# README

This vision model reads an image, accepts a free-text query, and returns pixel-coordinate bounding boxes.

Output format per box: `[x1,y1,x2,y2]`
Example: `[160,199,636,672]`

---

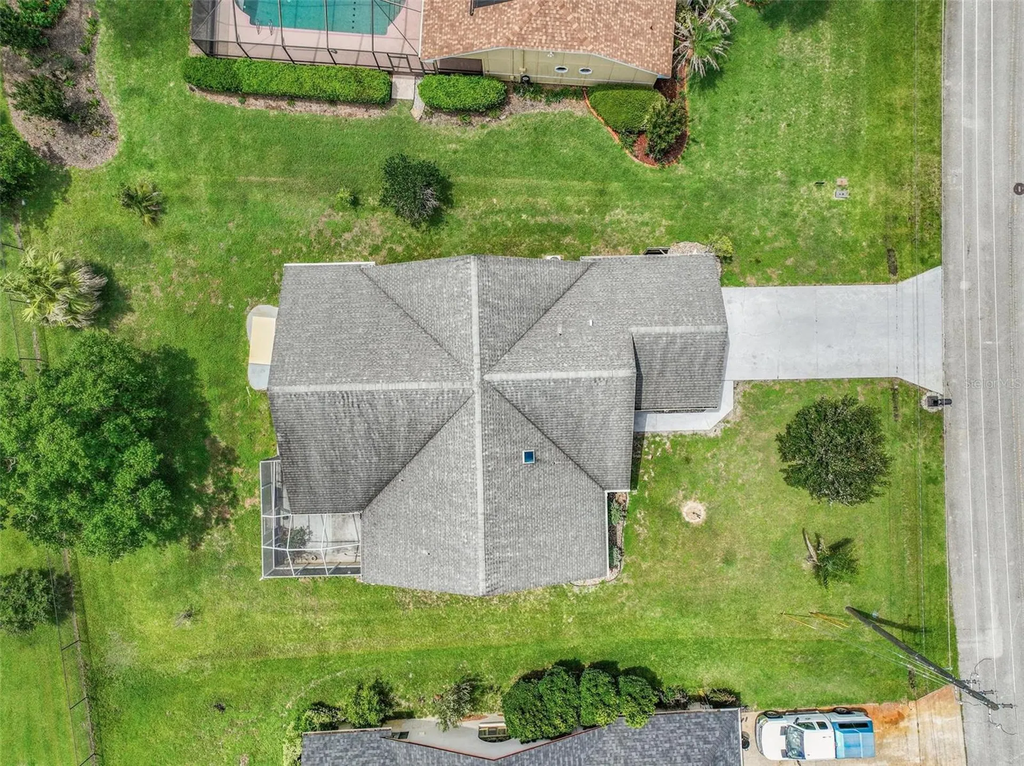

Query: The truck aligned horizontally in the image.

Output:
[753,710,875,766]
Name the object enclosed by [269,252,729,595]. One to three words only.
house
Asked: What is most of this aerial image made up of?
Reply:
grass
